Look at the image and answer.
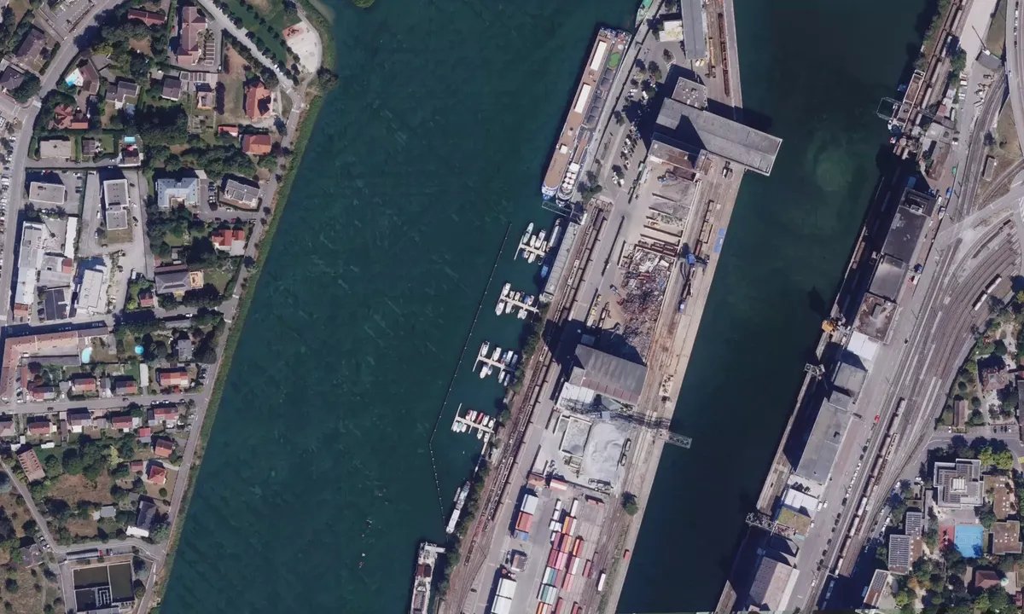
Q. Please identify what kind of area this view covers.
port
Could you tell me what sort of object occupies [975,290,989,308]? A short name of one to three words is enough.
rail car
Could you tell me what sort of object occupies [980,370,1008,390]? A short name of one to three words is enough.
house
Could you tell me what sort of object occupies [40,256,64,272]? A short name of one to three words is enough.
building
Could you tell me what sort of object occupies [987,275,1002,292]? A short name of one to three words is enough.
rail car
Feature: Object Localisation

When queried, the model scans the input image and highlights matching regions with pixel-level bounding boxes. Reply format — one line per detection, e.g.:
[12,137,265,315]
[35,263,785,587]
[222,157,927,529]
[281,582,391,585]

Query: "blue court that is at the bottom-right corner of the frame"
[955,525,983,558]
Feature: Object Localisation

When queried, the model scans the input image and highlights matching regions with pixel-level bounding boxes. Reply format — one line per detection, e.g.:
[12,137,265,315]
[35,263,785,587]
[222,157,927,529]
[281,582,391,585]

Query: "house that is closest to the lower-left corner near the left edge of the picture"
[20,544,44,567]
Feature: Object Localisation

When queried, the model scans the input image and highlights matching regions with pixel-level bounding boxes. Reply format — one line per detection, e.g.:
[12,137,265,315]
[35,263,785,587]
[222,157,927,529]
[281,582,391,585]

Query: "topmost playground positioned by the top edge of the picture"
[287,21,320,71]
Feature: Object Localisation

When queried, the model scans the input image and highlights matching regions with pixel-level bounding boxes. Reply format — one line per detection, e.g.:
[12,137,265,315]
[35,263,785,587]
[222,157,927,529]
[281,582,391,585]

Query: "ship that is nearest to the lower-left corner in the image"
[412,542,437,614]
